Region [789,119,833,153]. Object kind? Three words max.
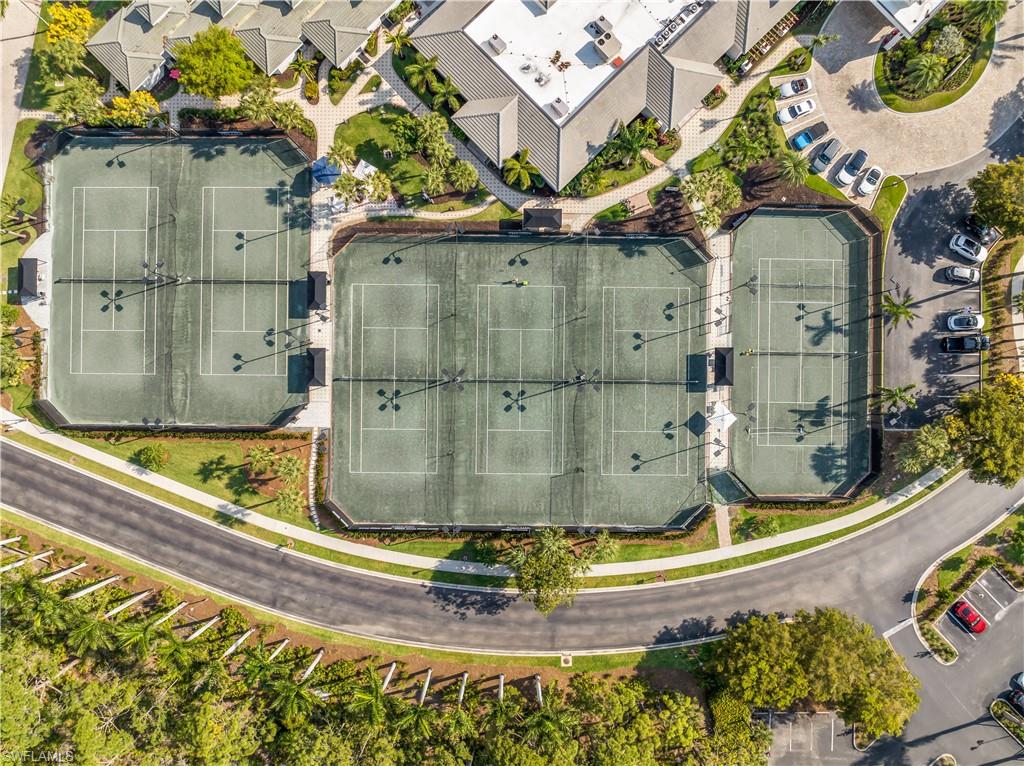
truck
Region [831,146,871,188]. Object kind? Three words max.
car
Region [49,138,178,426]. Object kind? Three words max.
tennis court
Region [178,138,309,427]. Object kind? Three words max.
tennis court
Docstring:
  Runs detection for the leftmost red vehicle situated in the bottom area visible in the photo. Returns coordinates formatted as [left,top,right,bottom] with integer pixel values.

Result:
[949,596,988,634]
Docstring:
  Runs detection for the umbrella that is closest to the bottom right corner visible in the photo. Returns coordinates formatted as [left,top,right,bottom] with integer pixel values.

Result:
[705,402,737,433]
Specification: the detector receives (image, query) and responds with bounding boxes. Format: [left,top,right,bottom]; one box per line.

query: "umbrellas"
[312,156,341,186]
[354,161,375,183]
[705,402,737,433]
